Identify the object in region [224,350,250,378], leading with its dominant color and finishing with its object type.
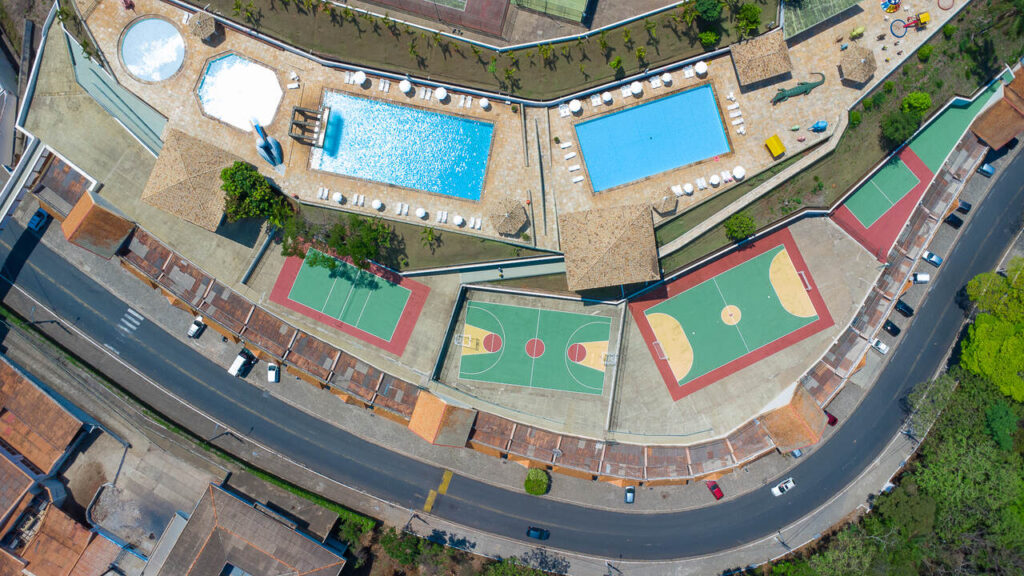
white vehicle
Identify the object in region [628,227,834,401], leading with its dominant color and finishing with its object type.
green sports court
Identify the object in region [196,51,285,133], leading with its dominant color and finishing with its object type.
white swimming pool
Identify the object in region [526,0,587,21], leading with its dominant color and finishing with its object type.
green tennis court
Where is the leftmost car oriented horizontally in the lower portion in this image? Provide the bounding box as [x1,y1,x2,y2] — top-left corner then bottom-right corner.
[527,526,550,540]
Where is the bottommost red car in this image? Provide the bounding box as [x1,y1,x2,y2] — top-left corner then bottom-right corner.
[704,480,723,500]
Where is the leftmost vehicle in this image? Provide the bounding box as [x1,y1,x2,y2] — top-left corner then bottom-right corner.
[29,209,48,231]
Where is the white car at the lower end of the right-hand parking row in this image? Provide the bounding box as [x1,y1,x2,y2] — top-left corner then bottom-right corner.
[869,337,891,355]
